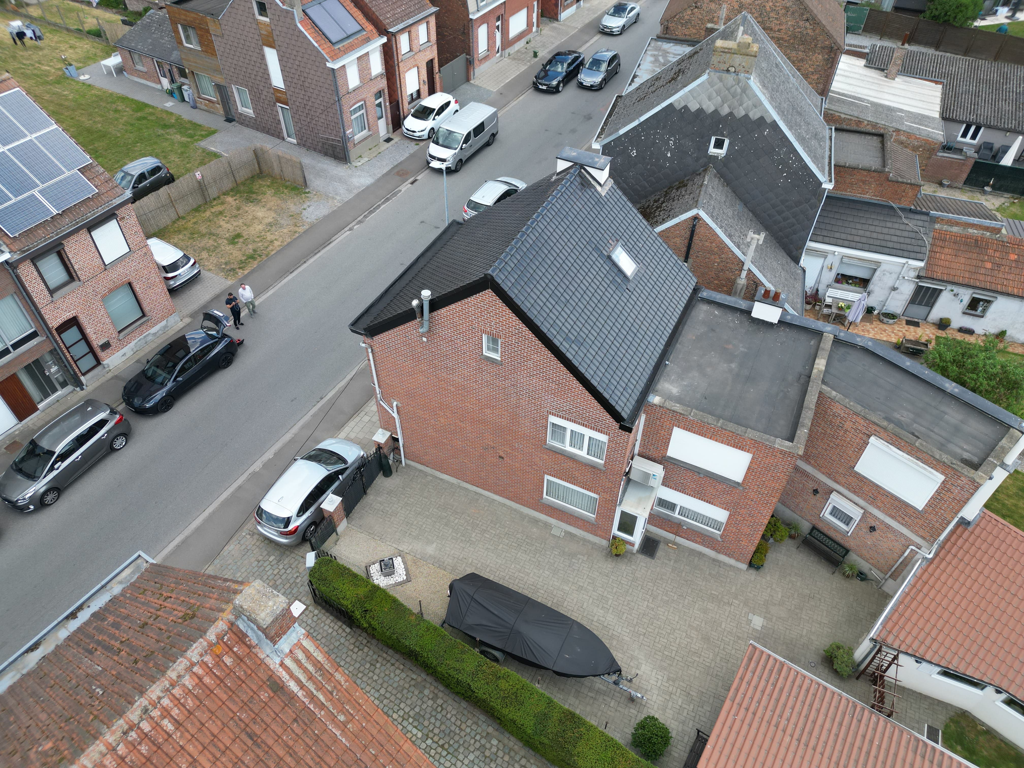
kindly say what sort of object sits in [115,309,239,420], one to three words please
car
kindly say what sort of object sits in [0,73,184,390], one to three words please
house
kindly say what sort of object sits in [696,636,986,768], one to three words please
building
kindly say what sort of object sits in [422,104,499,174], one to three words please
van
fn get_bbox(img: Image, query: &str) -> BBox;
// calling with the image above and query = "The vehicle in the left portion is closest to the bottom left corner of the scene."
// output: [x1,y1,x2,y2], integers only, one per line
[0,401,134,518]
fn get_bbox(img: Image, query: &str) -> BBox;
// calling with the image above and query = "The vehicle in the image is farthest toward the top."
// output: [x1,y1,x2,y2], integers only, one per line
[599,4,640,35]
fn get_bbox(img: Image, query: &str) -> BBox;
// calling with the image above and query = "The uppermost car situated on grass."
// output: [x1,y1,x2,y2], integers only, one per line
[111,151,178,200]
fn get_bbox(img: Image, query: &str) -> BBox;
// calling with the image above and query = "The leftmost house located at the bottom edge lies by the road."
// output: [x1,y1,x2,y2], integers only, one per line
[0,552,433,768]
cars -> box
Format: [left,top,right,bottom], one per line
[463,177,529,227]
[532,52,585,93]
[401,94,456,138]
[577,50,622,89]
[111,151,178,200]
[115,309,239,420]
[0,401,134,518]
[151,236,205,296]
[247,435,365,553]
[599,4,640,35]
